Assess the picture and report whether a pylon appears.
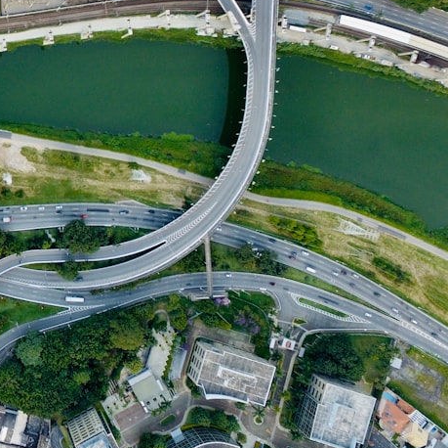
Yes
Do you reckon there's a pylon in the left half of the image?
Yes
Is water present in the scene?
Yes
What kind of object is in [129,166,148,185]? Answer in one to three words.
pylon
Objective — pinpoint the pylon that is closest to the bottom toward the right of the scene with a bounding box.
[341,240,388,272]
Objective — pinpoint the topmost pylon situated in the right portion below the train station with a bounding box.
[333,214,387,250]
